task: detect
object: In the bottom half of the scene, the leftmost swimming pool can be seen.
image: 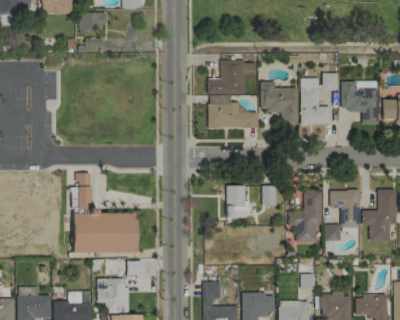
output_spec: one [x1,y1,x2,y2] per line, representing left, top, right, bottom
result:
[336,238,358,252]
